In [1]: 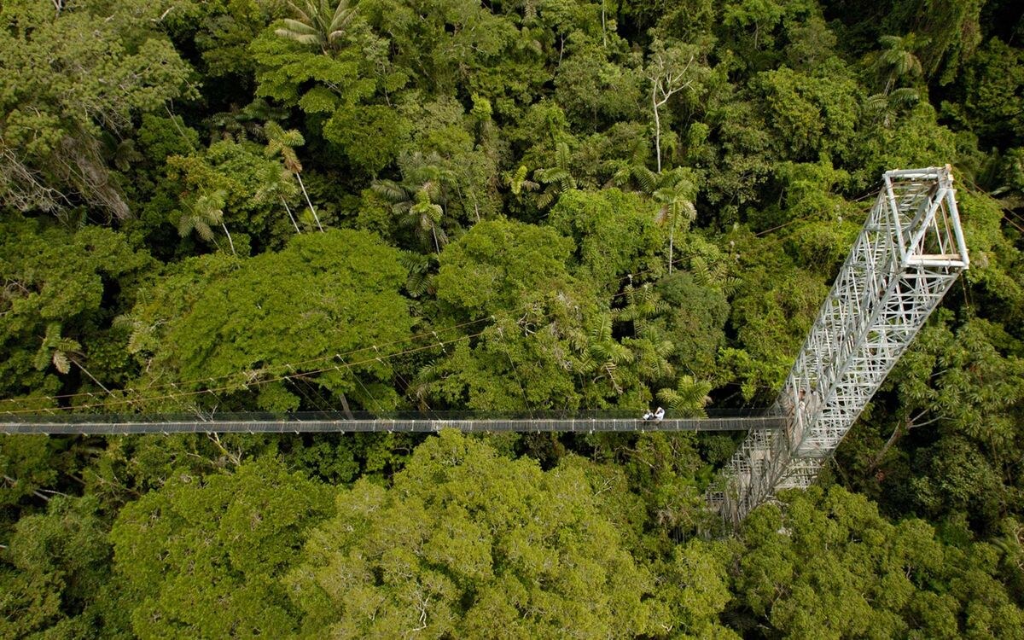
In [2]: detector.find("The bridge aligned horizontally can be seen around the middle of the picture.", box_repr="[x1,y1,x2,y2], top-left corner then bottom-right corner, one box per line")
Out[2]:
[0,162,1022,436]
